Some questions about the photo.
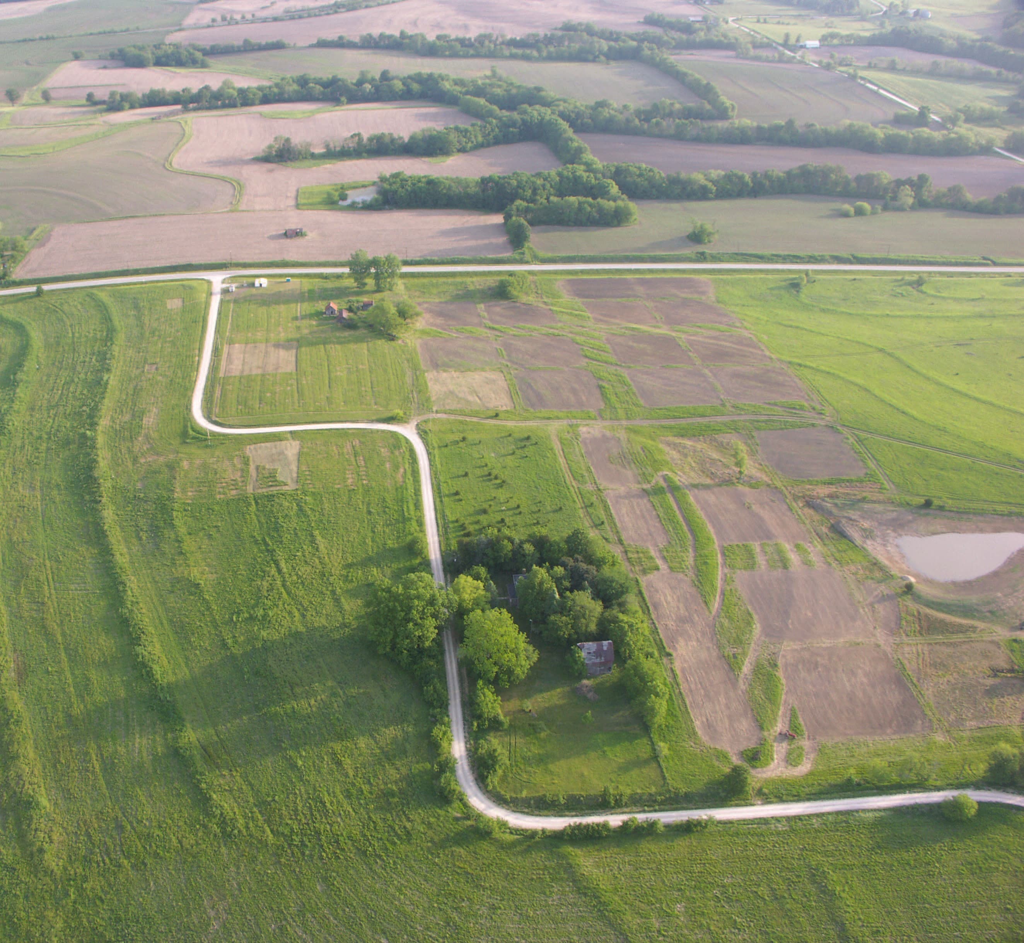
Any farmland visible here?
Yes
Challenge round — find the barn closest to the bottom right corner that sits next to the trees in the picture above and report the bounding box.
[572,639,612,675]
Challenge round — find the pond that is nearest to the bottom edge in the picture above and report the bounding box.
[897,535,1024,583]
